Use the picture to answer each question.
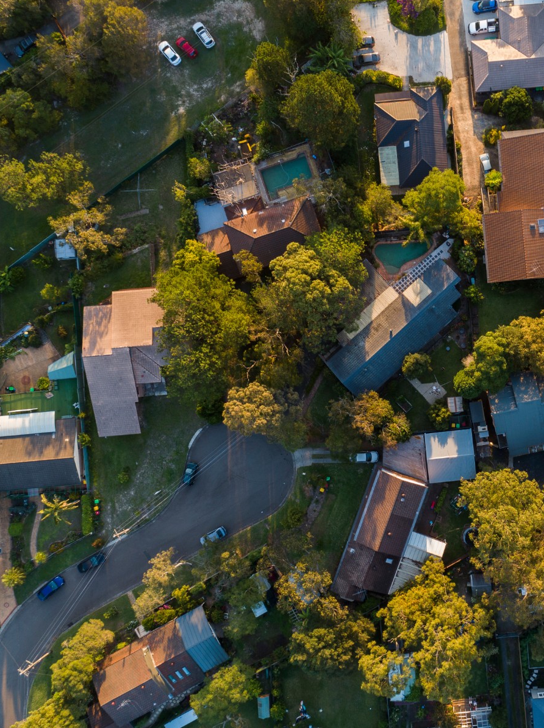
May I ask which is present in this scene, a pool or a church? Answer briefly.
pool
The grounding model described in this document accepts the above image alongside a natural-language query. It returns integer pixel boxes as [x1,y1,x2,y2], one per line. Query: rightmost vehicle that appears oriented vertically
[479,152,493,177]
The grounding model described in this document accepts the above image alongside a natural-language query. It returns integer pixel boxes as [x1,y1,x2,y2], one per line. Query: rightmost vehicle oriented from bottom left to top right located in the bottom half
[199,526,226,547]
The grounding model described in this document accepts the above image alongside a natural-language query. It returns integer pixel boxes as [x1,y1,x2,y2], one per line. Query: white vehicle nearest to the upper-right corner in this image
[467,17,499,33]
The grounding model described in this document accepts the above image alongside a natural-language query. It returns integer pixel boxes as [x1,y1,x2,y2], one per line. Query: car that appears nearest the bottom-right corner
[349,451,379,464]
